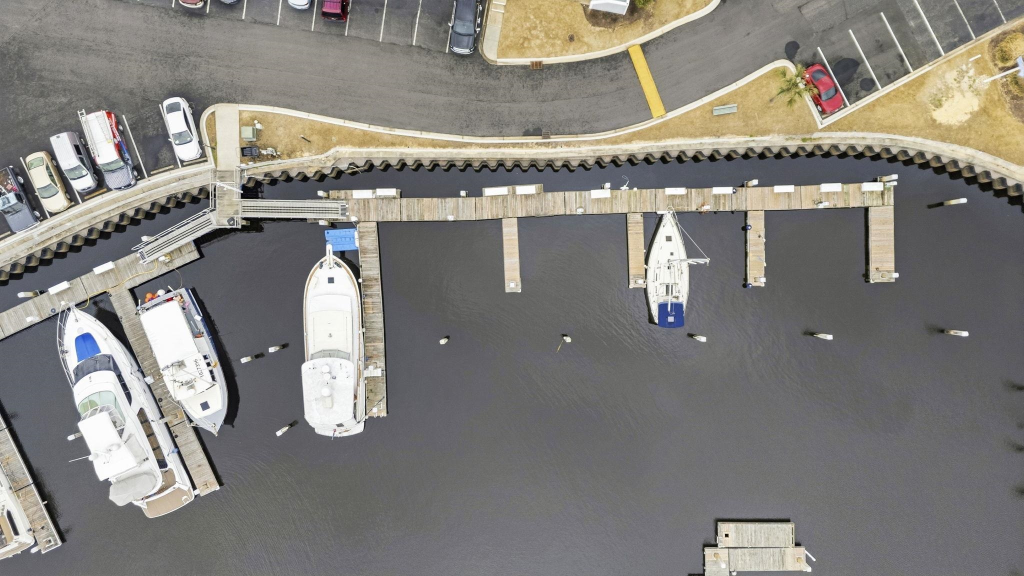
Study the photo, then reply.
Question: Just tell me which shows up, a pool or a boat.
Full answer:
It is a boat that can be seen here.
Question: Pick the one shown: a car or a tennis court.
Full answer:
It is a car that can be seen here.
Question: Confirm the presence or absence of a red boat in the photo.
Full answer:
No, the photo shows no red boat.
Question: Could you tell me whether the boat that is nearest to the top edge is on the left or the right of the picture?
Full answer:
The boat that is nearest to the top edge sits on the right side.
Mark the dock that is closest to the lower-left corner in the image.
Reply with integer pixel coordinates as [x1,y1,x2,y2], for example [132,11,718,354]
[20,483,63,552]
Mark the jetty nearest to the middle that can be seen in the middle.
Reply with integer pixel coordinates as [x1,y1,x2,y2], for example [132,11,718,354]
[500,218,523,293]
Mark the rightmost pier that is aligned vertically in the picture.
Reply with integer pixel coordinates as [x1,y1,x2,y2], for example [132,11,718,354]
[864,206,895,282]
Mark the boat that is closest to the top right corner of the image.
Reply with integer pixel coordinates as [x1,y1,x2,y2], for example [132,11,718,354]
[643,206,712,328]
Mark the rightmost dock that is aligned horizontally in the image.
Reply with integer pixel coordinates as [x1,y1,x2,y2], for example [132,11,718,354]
[802,182,894,209]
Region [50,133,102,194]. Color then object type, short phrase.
white car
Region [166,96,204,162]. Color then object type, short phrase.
white car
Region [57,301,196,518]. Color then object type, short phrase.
white boat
